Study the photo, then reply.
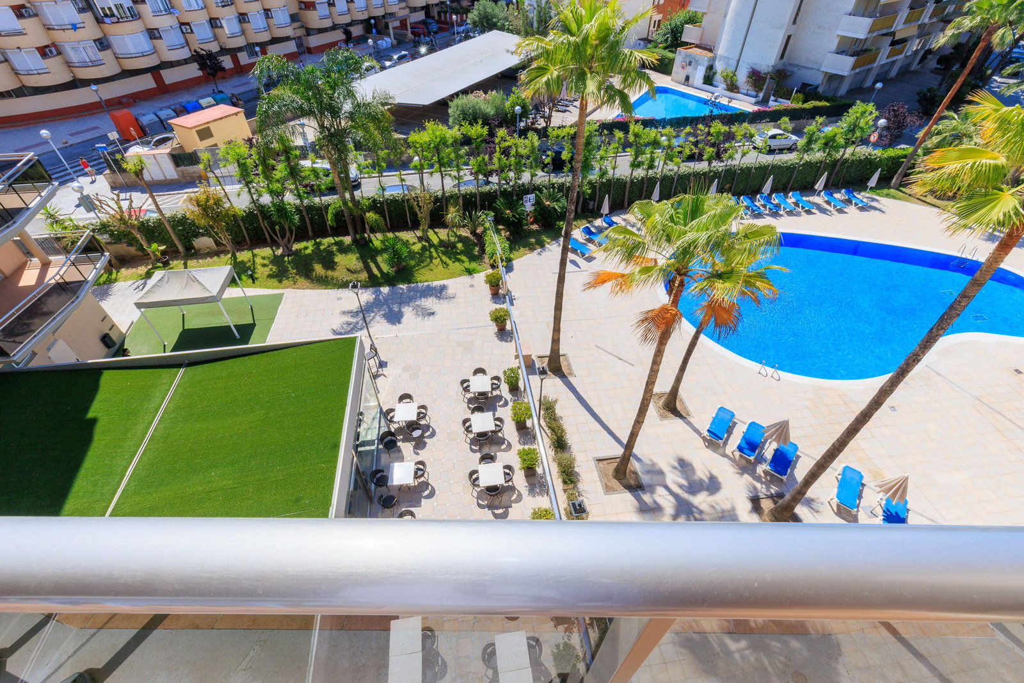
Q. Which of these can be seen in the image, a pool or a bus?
pool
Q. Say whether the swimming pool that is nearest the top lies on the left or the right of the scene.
right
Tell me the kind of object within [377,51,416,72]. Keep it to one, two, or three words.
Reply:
car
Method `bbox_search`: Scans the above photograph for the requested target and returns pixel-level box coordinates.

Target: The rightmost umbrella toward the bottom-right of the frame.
[857,474,909,520]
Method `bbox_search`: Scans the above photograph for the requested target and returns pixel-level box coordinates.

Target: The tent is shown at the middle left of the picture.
[129,264,252,351]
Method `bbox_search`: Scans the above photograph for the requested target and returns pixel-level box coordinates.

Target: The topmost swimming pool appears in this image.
[615,85,750,120]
